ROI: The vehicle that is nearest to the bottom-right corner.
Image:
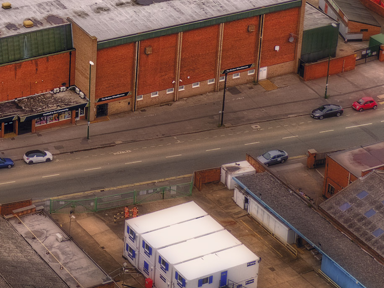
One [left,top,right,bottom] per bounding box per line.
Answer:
[265,151,290,165]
